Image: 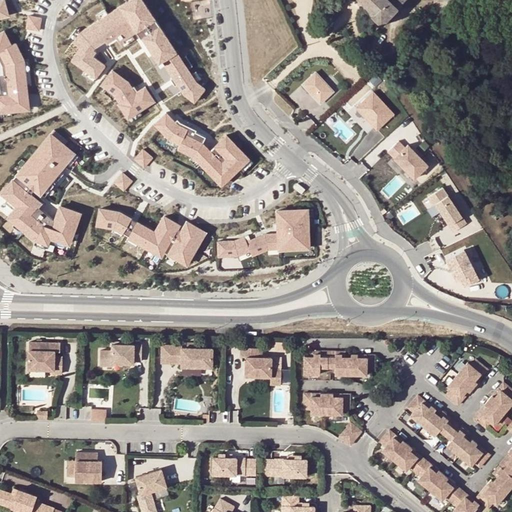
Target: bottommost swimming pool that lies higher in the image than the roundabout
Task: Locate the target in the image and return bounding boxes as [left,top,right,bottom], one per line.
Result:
[397,202,420,225]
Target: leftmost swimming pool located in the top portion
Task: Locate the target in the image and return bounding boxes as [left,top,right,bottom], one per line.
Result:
[326,112,356,144]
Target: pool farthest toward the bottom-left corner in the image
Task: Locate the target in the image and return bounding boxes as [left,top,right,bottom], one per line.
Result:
[17,385,53,407]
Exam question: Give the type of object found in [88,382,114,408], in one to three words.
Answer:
swimming pool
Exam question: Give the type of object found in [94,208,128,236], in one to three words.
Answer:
building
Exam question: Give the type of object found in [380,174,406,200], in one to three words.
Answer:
swimming pool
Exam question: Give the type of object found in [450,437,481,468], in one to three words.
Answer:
house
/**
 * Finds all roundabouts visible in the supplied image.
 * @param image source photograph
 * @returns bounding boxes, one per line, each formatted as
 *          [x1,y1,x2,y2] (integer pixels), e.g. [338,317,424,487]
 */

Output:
[328,241,412,326]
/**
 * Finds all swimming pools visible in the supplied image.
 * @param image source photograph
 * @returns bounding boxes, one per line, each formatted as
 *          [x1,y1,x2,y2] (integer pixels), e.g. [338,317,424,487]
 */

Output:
[380,174,406,200]
[397,202,420,225]
[326,112,356,144]
[496,284,512,299]
[17,385,53,407]
[173,398,202,413]
[88,382,114,408]
[270,386,290,418]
